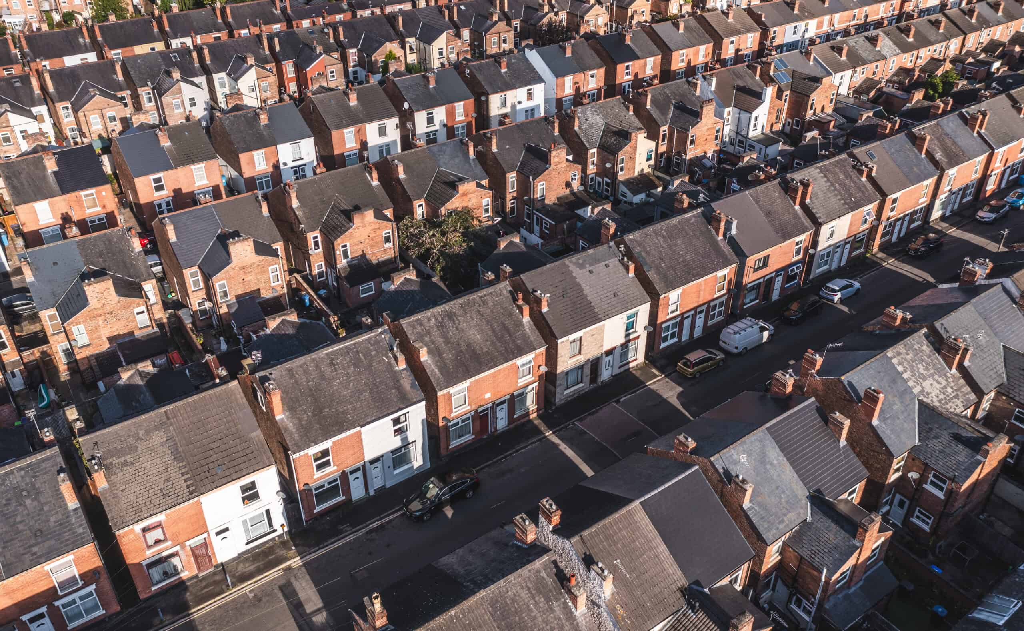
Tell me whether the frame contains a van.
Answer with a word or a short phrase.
Yes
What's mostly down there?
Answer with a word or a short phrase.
buildings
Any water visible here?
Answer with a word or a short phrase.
No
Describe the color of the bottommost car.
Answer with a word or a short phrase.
black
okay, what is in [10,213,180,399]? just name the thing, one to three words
house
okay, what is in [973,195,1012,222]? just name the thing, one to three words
car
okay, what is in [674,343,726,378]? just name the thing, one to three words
car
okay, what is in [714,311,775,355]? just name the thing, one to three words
van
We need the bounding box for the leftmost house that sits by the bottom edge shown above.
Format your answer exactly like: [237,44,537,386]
[0,406,124,631]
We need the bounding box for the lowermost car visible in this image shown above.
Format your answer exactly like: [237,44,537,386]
[398,463,480,522]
